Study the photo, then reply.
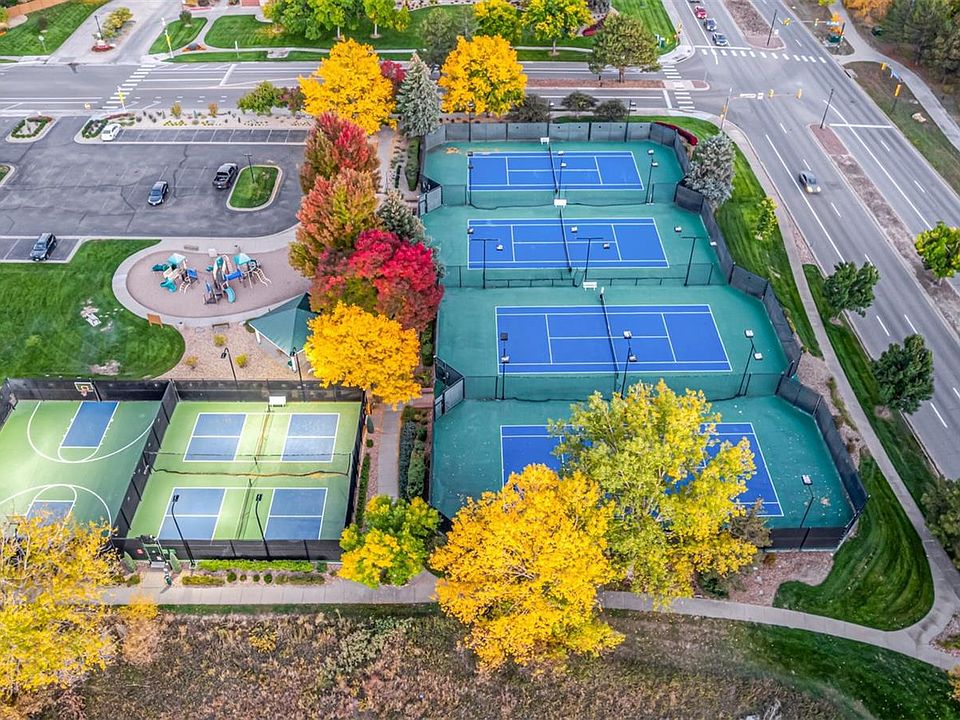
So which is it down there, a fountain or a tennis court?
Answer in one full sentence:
Looking from above, you can make out a tennis court.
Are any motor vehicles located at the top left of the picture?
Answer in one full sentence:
Yes, at the top left of the picture there is a motor vehicle.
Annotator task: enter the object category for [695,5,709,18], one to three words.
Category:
vehicle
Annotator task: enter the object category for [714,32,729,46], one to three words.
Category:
car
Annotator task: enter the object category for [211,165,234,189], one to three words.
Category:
truck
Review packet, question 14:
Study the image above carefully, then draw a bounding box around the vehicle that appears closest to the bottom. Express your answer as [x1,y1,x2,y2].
[27,232,56,262]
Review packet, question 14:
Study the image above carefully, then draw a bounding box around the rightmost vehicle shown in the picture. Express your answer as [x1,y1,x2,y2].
[799,172,821,194]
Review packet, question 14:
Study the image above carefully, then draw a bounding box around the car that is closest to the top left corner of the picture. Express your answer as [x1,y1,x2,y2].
[98,125,120,141]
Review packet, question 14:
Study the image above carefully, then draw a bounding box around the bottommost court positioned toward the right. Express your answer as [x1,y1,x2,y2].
[432,395,857,529]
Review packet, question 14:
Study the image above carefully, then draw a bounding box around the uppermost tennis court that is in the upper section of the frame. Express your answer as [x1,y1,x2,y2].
[427,141,685,205]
